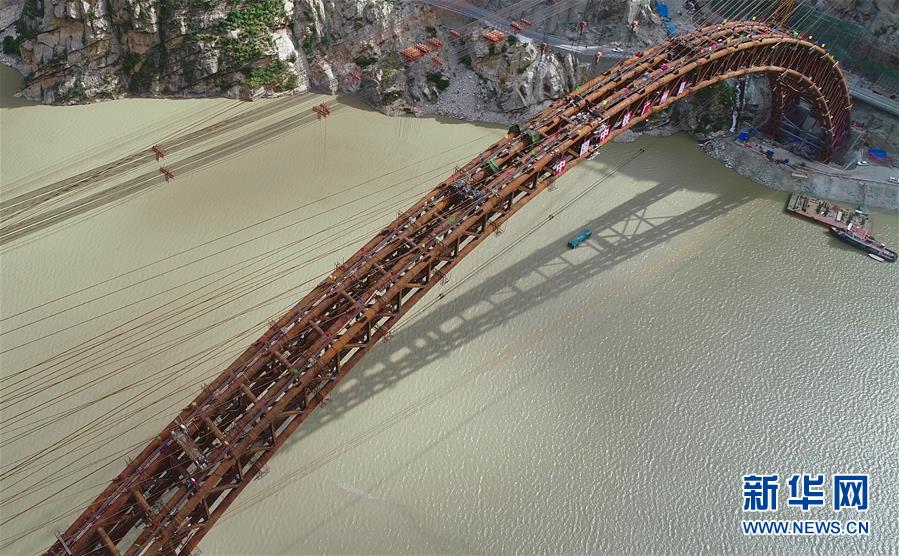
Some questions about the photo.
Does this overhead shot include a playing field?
No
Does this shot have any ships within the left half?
No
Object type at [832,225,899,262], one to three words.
boat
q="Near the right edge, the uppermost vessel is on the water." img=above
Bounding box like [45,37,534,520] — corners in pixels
[788,191,872,235]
